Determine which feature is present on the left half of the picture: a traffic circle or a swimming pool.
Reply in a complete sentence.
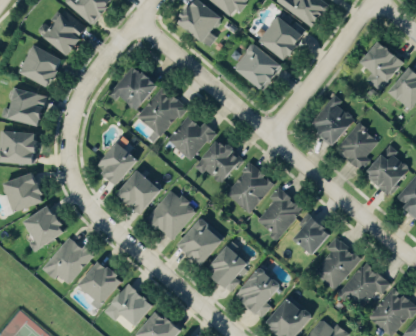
What appears on the left half of the picture is a swimming pool.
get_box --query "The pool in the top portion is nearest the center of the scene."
[133,120,154,138]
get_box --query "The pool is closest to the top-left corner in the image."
[102,124,123,150]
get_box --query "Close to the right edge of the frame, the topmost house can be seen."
[359,43,400,87]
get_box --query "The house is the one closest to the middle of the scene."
[197,139,238,182]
